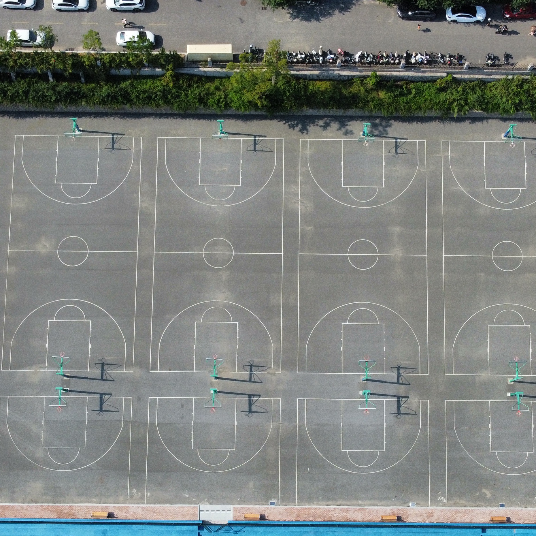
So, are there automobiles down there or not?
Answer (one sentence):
Yes, looking at the shot, I can spot an automobile.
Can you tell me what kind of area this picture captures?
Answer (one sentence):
It's a sports ground.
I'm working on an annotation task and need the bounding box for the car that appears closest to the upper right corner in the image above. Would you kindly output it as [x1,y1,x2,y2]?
[502,2,536,23]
